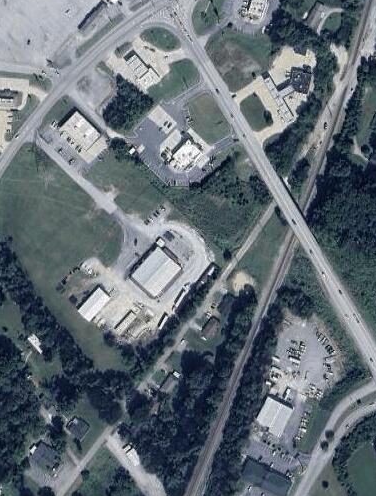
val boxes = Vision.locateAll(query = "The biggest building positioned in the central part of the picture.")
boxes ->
[129,246,185,302]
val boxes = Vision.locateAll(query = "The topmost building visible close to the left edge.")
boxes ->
[0,90,21,106]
